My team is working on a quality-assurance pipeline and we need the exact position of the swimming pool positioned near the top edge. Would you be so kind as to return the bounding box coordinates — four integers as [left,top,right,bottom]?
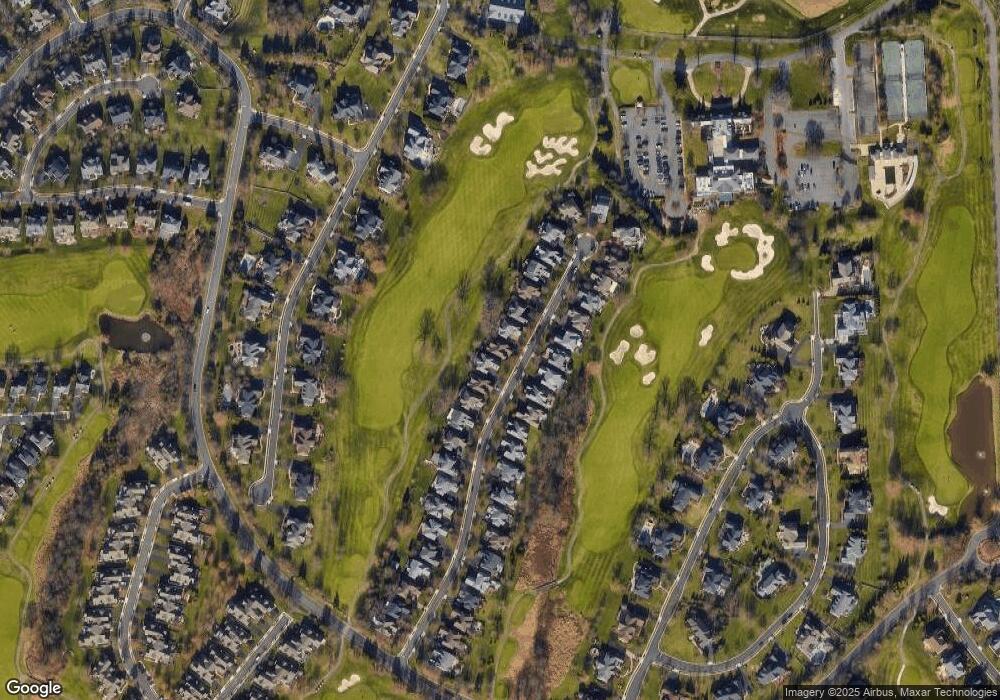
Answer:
[318,18,334,33]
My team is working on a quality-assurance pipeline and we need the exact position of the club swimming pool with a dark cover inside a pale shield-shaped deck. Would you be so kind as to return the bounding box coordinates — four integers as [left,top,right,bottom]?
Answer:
[869,156,919,209]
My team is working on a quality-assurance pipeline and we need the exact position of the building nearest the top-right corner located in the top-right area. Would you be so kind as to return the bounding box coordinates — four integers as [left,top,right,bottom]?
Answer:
[870,144,905,158]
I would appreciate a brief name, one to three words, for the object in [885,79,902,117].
tennis court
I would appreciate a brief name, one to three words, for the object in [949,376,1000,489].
pond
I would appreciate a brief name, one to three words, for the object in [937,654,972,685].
house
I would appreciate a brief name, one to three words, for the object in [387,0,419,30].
house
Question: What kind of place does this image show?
residential area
